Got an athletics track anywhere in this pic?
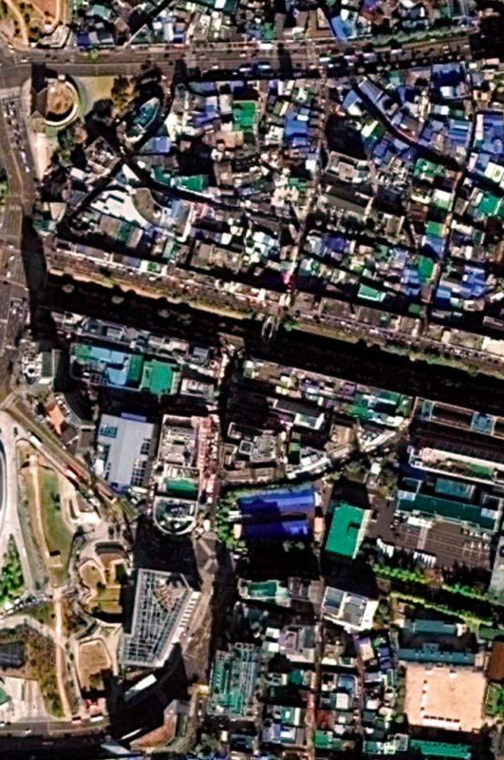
No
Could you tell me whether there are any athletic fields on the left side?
No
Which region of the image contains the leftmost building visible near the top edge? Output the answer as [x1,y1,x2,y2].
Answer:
[42,25,75,48]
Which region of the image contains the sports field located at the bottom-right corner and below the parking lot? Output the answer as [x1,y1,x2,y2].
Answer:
[406,665,486,732]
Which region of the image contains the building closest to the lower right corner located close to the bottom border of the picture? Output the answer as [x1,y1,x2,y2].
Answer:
[410,740,474,758]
